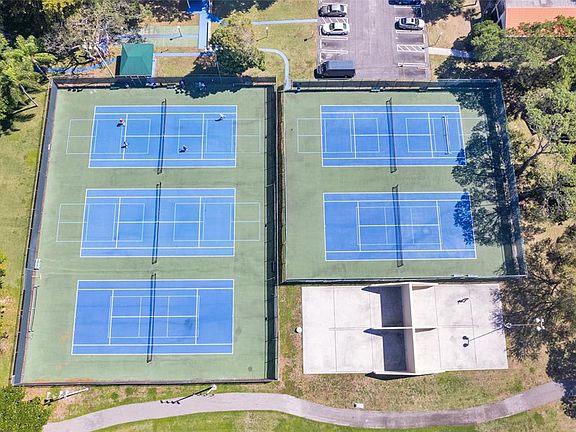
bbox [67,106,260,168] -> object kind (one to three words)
tennis court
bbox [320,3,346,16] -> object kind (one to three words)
vehicle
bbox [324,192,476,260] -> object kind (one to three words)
tennis court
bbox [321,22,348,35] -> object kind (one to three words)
vehicle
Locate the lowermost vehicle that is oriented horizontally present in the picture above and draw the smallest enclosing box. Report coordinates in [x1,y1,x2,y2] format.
[318,59,356,76]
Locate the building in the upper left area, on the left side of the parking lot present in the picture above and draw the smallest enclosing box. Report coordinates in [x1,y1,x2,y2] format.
[119,44,157,79]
